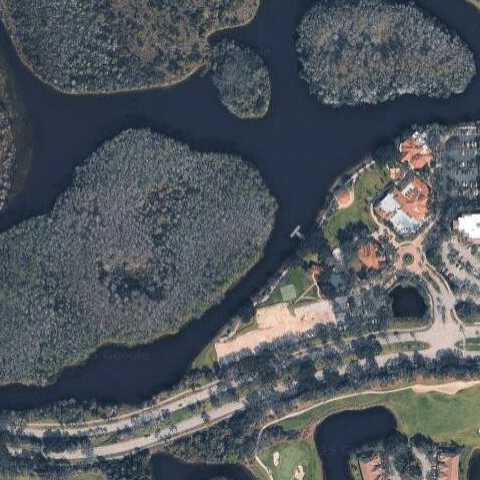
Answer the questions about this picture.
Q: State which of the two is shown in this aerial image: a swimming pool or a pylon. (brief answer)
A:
swimming pool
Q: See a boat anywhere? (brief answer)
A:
No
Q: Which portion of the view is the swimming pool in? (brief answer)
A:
right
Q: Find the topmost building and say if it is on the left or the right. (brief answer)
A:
right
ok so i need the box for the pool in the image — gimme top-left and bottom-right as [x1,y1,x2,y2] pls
[390,207,421,233]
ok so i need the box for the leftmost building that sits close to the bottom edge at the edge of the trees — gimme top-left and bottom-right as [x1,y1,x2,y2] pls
[358,456,382,480]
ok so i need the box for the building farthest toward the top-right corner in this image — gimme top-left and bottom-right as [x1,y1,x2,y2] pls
[396,131,434,172]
